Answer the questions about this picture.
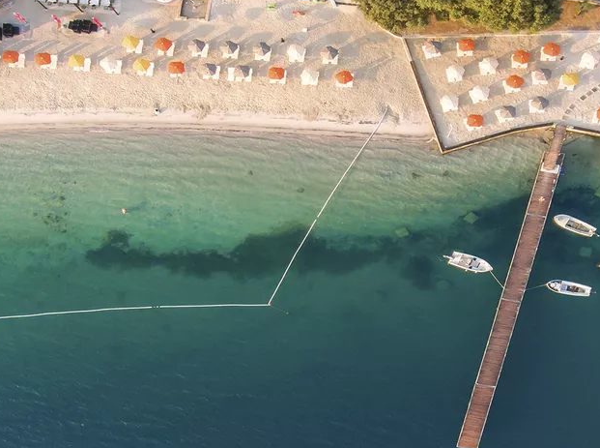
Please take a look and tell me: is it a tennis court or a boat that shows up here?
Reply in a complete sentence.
The image shows a boat.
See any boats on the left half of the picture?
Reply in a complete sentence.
No, no boat can be made out on the left half of the picture.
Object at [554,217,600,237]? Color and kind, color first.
white boat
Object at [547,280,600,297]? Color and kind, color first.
white boat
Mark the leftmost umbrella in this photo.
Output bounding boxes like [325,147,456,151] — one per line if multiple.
[2,49,22,67]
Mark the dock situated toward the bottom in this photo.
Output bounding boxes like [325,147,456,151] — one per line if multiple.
[458,142,567,448]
